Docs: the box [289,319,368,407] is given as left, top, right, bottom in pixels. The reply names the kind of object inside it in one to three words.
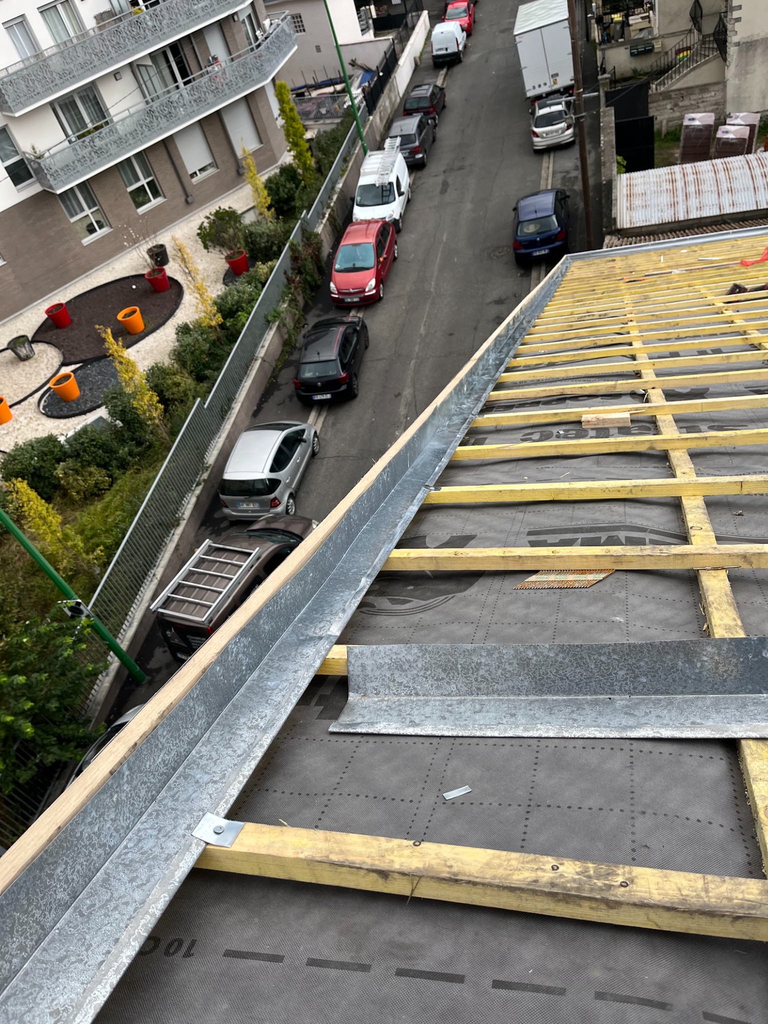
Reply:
car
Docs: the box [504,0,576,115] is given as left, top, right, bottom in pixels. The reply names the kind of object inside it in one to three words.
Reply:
truck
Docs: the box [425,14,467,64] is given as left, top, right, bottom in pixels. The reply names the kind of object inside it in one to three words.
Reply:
van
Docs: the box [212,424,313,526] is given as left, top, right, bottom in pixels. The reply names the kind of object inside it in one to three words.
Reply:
car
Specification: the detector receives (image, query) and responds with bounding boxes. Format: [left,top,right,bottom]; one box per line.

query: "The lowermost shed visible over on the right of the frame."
[618,152,768,236]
